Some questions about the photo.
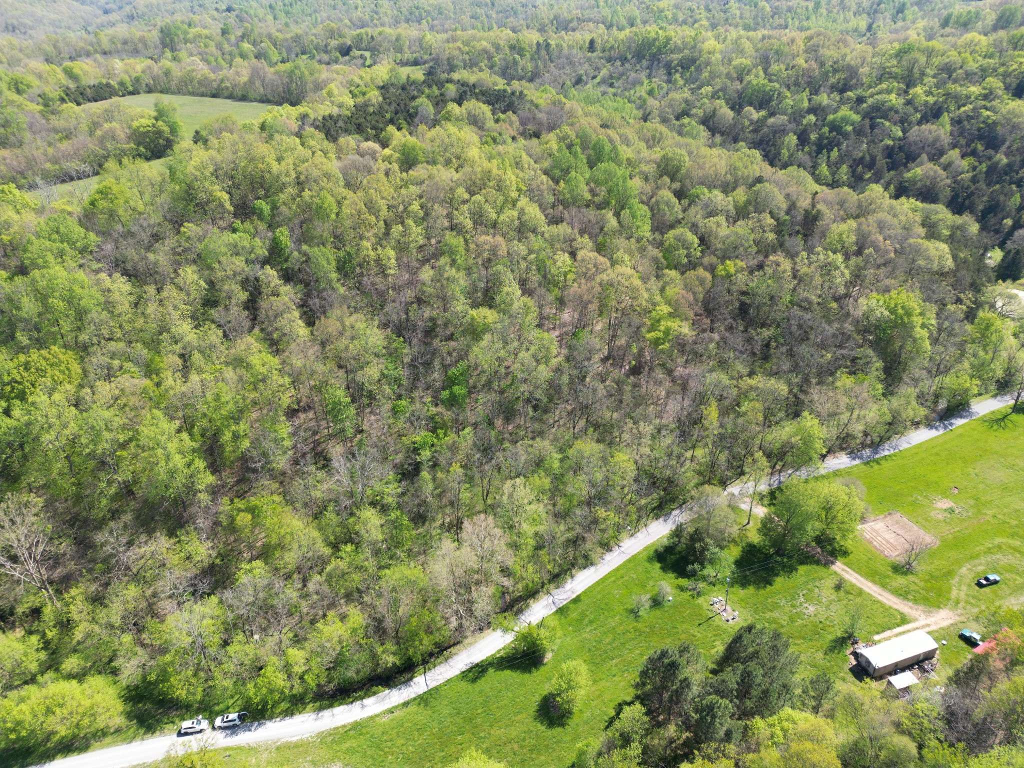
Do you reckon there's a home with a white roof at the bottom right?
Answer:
Yes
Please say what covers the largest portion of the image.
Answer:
trees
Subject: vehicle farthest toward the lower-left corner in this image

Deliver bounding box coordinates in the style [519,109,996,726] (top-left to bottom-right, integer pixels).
[178,710,210,732]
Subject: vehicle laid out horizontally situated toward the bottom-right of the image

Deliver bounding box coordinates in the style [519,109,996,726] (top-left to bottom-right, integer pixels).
[972,574,1001,586]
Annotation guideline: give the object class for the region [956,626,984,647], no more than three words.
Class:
truck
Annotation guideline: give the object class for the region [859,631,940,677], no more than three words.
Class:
house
